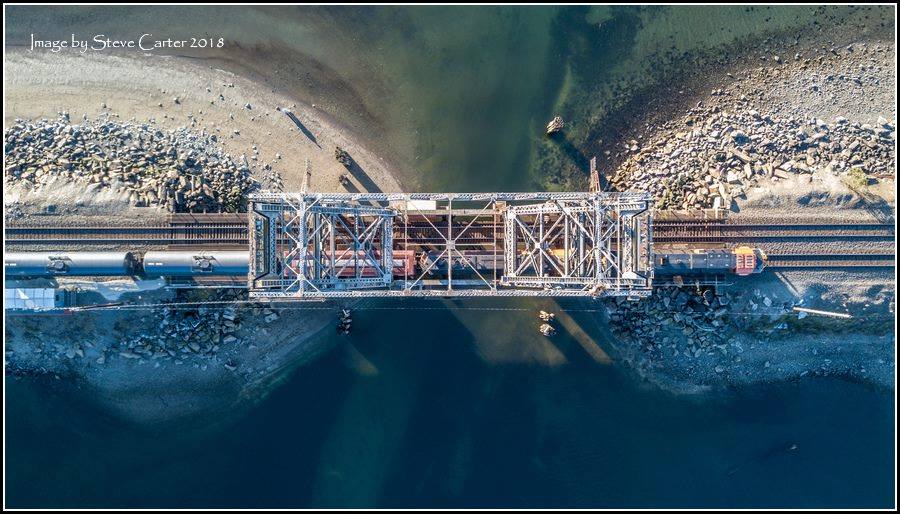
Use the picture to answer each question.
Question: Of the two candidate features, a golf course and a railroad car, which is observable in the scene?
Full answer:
I can see a railroad car in this picture.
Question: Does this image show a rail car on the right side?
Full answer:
Yes, you'll find a rail car on the right side.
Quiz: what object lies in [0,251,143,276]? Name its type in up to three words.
rail car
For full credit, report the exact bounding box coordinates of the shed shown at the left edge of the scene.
[0,287,84,316]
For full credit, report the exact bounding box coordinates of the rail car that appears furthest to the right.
[582,248,766,275]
